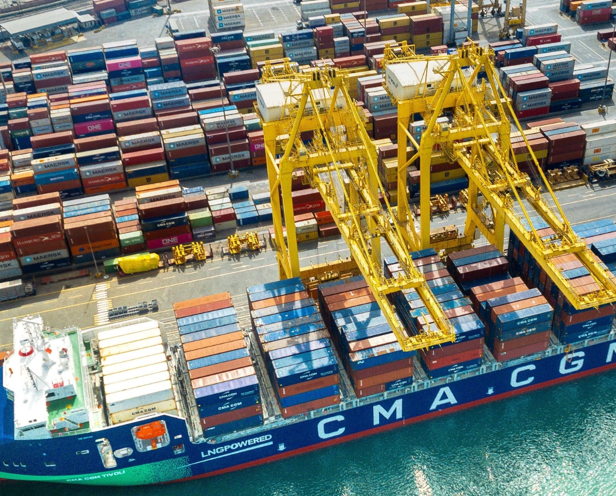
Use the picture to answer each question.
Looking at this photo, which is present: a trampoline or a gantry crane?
gantry crane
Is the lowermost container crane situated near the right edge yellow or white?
yellow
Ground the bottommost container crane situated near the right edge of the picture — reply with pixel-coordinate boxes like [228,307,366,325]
[381,28,616,319]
